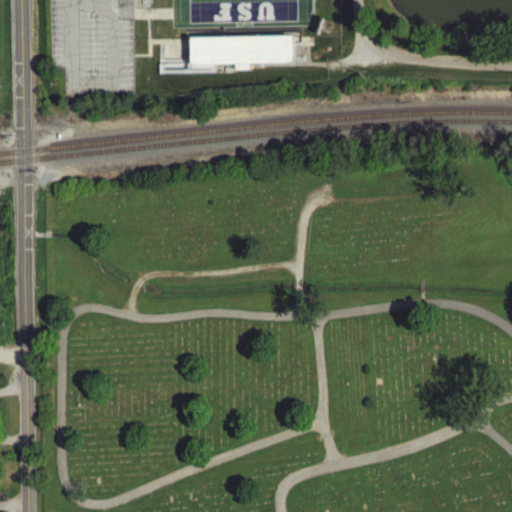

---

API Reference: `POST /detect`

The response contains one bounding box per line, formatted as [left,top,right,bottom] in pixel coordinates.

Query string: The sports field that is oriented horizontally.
[174,0,314,28]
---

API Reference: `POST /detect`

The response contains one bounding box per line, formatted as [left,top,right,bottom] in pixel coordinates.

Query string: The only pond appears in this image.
[391,0,512,47]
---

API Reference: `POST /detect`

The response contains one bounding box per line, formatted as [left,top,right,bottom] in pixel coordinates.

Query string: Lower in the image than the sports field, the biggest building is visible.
[188,34,294,71]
